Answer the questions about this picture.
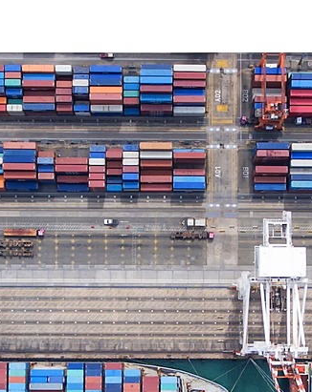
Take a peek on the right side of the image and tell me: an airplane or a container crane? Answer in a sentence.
It is a container crane that can be seen on the right side of the image.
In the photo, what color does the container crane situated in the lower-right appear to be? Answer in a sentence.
The color of the container crane situated in the lower-right is white.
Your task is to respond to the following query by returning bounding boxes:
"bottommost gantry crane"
[226,208,309,392]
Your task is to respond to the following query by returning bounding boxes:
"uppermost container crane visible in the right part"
[249,55,288,136]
